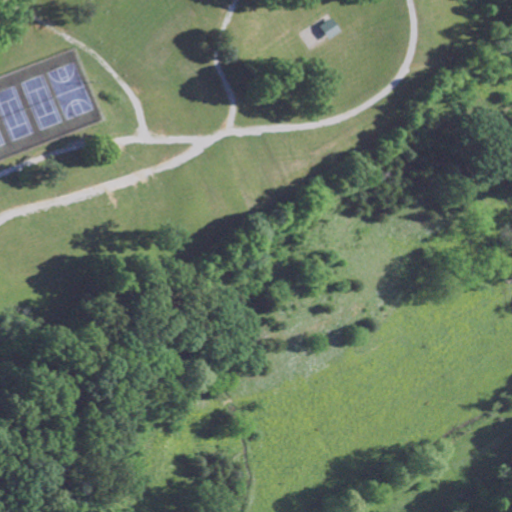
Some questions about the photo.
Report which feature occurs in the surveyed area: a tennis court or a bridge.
tennis court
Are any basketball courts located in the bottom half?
No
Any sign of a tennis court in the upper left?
Yes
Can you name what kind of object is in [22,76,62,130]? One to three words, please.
tennis court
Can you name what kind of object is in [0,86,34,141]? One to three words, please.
tennis court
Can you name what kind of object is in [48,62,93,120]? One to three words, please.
basketball court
